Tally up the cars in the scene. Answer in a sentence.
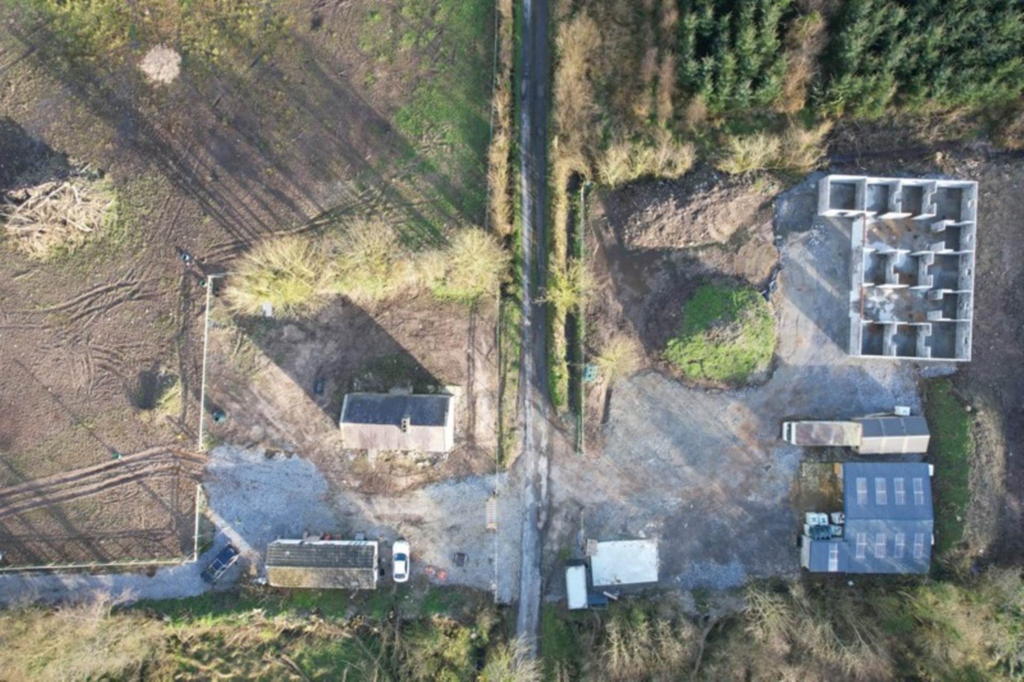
In total, there are 2 cars in the scene.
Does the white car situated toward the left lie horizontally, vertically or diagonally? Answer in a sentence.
The white car situated toward the left runs vertically in the image.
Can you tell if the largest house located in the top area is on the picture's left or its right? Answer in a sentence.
It is on the right.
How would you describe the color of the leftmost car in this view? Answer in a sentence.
From above, the leftmost car appears blue.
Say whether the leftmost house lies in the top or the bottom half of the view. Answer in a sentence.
The bottom half of the photo is where the leftmost house is.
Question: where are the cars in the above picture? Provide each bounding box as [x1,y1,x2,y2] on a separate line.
[390,540,411,582]
[201,541,238,585]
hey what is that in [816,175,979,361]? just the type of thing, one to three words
house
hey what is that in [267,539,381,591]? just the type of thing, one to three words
house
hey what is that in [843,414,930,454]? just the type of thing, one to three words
shed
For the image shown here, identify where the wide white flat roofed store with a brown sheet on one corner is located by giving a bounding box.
[589,534,658,586]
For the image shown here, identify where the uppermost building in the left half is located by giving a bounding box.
[344,383,453,453]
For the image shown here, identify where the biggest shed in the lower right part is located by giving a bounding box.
[799,458,934,575]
